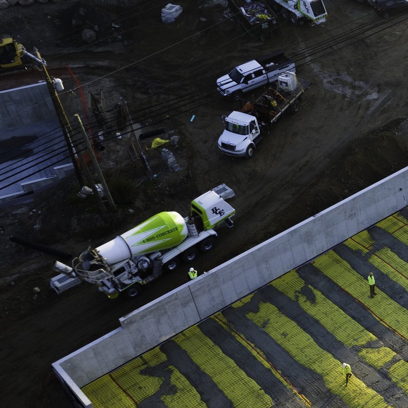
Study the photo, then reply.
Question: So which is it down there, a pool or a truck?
truck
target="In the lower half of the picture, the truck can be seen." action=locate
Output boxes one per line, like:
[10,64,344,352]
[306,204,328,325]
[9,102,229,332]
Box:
[61,194,247,305]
